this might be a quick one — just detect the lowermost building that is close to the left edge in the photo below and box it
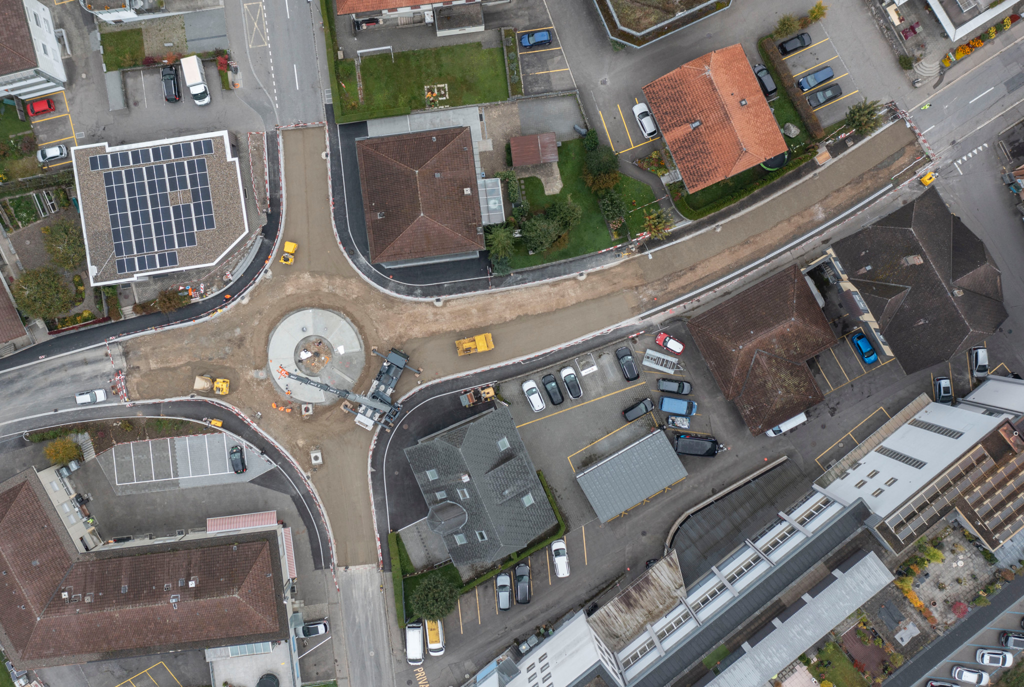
[0,462,297,670]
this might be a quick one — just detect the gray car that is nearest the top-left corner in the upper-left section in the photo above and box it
[35,143,71,163]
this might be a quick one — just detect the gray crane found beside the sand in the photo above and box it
[272,348,422,430]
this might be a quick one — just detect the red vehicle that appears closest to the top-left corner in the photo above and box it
[25,97,58,117]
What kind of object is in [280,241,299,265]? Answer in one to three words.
vehicle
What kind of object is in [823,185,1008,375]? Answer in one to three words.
house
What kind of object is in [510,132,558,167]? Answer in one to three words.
shed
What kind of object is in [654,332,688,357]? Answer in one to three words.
car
